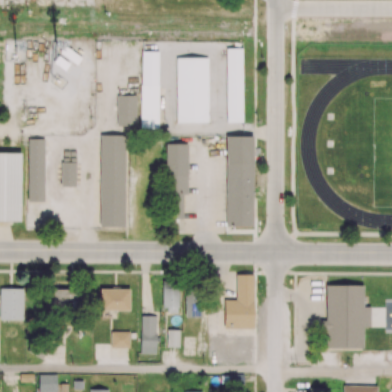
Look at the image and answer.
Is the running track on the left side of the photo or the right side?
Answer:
right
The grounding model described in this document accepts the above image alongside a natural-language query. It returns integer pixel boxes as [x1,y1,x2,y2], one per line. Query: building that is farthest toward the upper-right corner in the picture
[228,47,244,122]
